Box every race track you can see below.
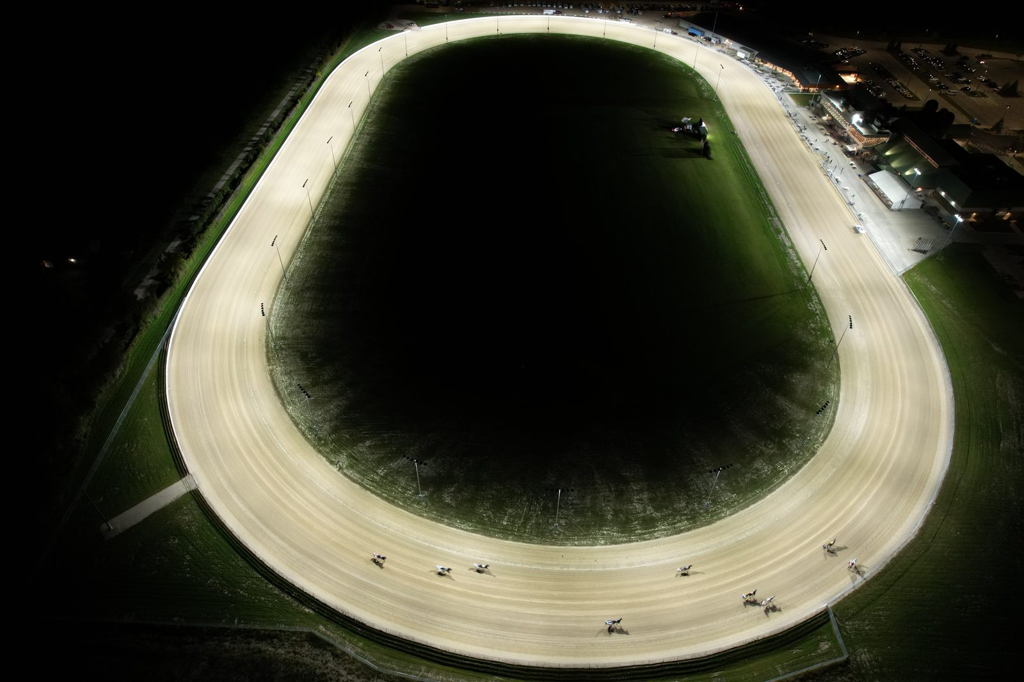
[166,15,955,669]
